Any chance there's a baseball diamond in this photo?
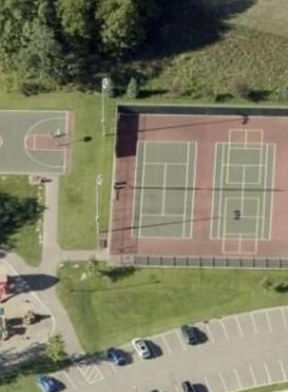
No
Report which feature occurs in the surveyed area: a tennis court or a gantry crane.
tennis court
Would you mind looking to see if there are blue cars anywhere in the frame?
Yes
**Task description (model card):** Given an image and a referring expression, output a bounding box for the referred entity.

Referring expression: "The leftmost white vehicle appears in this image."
[132,339,151,361]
